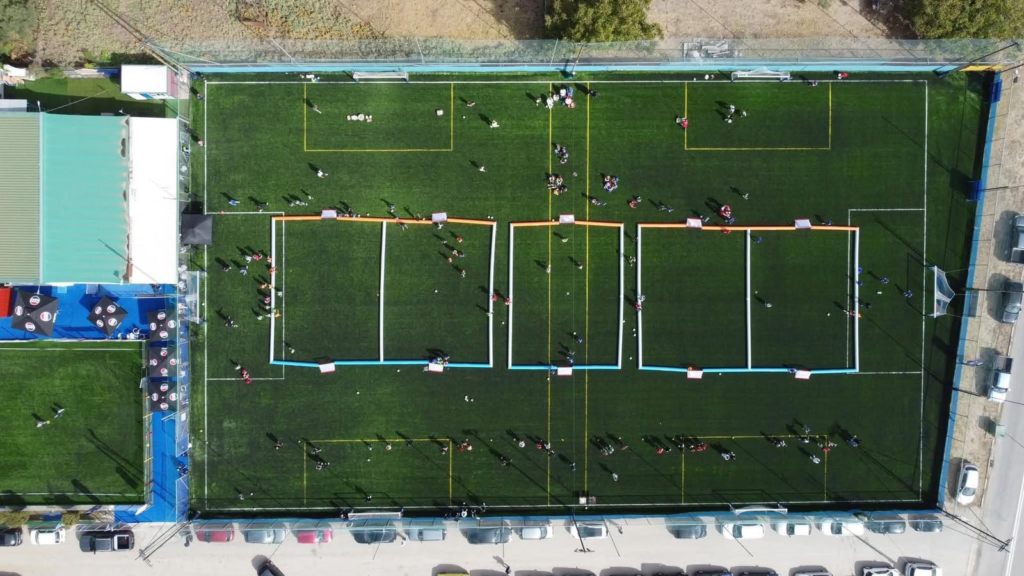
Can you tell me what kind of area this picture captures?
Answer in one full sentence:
What you see here is a sports ground.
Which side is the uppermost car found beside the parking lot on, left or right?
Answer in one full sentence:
The uppermost car found beside the parking lot sits on the right side.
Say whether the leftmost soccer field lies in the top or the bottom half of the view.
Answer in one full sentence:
It is in the bottom half that the leftmost soccer field appears.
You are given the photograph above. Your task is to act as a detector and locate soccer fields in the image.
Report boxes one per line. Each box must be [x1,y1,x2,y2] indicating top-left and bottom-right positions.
[0,341,152,506]
[190,71,993,519]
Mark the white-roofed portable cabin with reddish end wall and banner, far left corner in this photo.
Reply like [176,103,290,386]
[122,65,180,99]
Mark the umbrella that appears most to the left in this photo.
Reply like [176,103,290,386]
[11,288,62,337]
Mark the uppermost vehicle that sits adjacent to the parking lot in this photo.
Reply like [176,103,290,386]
[953,460,979,504]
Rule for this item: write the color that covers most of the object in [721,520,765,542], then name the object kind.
white car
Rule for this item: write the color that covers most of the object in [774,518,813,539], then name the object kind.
white car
